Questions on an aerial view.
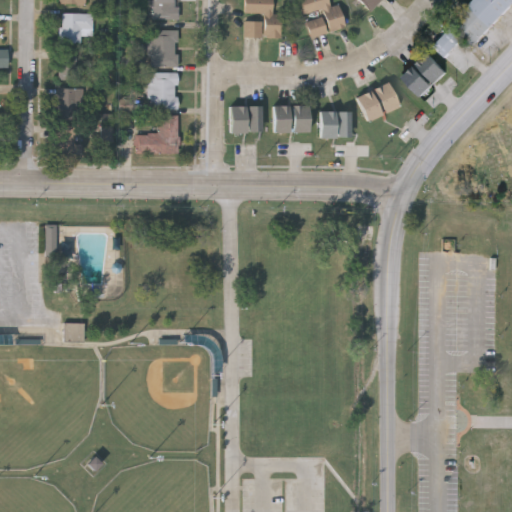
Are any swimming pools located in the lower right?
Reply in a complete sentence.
No, there's no swimming pool to be seen in the lower right.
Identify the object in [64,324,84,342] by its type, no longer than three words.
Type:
building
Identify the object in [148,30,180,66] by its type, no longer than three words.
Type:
house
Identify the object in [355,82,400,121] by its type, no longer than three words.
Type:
house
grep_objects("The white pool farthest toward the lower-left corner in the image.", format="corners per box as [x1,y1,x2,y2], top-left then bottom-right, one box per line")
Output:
[58,226,125,300]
